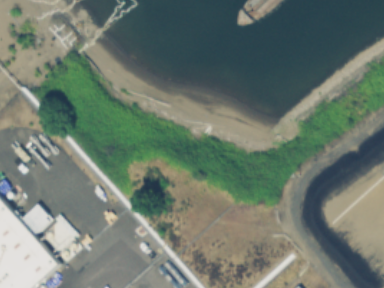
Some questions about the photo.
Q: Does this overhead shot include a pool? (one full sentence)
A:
No, the frame has no pool in it.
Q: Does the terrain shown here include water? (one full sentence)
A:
Yes, there's water in this view.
